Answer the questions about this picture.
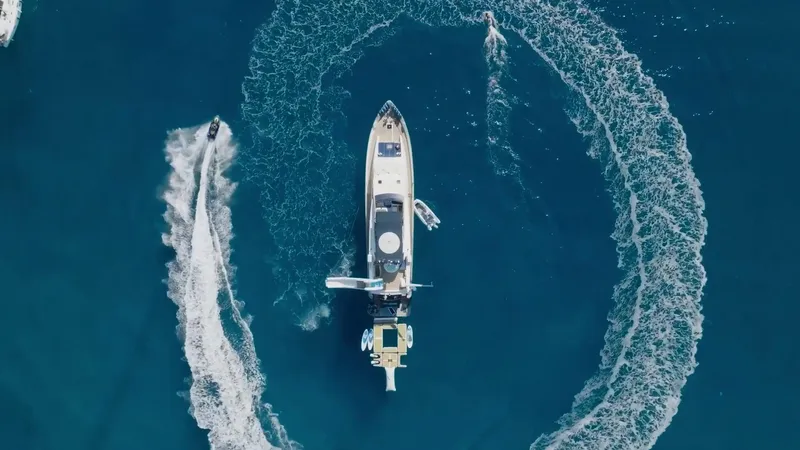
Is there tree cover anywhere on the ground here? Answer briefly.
No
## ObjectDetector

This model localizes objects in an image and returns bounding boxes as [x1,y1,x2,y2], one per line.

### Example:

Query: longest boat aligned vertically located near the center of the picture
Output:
[365,99,432,316]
